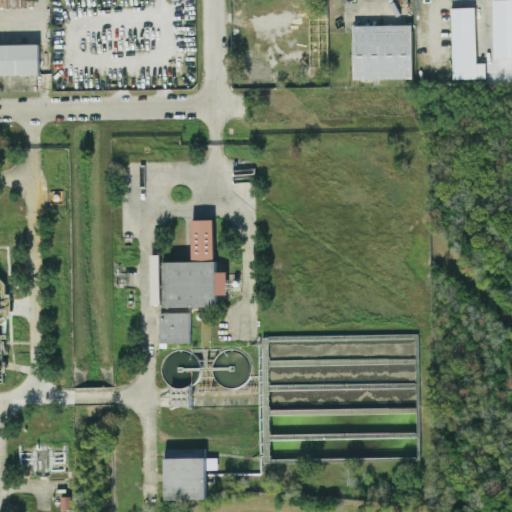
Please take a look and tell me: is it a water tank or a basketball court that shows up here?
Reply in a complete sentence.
Looking from above, you can make out a water tank.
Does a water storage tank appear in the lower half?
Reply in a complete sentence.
Yes, the scene does show a water storage tank in the lower half.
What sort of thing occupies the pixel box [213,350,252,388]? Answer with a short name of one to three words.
water tank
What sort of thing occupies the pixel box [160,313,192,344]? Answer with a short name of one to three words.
building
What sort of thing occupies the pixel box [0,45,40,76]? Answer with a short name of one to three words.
building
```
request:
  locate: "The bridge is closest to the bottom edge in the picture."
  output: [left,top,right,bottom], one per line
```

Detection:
[71,388,116,405]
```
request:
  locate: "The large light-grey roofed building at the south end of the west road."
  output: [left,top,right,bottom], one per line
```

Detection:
[163,458,207,500]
